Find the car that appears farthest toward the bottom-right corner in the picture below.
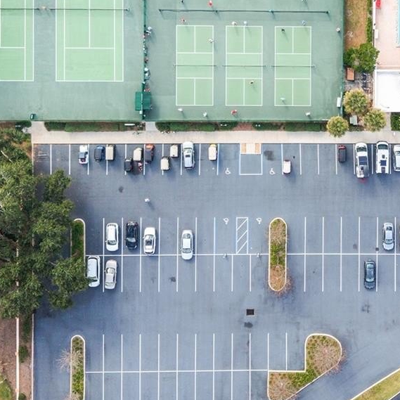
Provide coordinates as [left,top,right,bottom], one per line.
[364,259,376,288]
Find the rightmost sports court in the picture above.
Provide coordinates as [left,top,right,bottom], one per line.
[271,26,314,105]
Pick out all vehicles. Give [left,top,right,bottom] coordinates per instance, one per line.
[354,141,369,181]
[180,140,195,170]
[144,145,155,163]
[337,146,345,163]
[284,158,290,174]
[143,226,157,255]
[104,259,119,289]
[180,230,193,259]
[392,144,400,170]
[133,146,143,164]
[170,144,179,160]
[160,157,170,174]
[364,259,376,288]
[104,222,120,252]
[95,145,105,163]
[124,157,134,174]
[79,147,89,167]
[382,222,395,251]
[209,145,218,162]
[105,146,115,162]
[87,256,101,286]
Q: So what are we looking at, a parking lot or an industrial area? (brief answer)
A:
parking lot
